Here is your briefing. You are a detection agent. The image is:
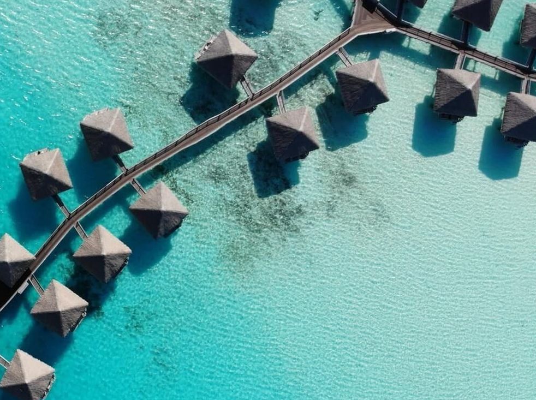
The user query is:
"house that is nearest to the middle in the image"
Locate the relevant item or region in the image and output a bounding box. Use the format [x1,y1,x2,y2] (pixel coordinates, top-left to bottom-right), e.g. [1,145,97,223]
[266,106,320,163]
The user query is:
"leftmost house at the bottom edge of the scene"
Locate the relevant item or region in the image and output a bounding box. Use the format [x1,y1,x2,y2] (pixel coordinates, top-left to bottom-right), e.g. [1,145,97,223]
[0,349,56,400]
